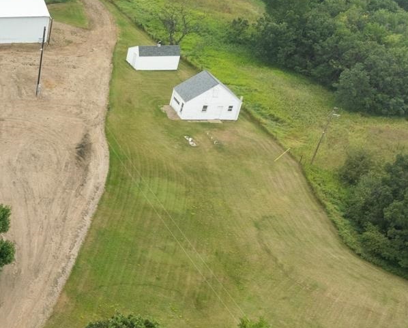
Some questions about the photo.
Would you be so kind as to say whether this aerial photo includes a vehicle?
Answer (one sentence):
No, no vehicle can be seen from above.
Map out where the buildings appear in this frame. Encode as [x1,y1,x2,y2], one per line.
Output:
[166,68,242,120]
[127,38,180,69]
[0,0,54,44]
